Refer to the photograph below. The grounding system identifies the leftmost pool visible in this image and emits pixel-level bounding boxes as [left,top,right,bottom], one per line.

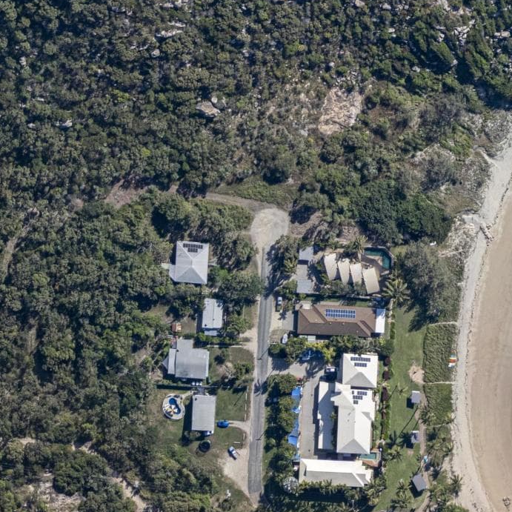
[162,394,185,419]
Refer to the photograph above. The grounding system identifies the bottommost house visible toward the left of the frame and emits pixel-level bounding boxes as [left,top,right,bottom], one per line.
[191,395,217,431]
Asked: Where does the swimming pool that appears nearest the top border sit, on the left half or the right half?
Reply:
right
